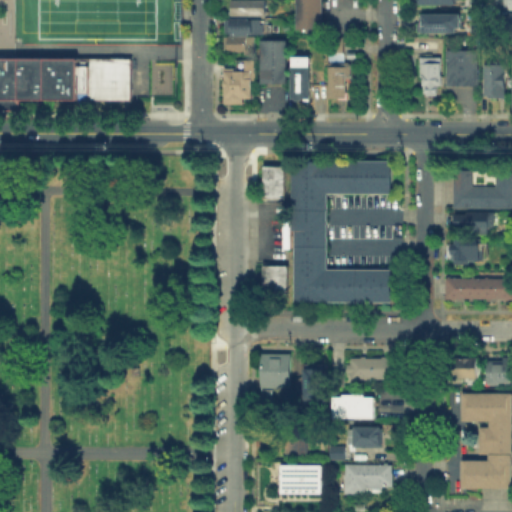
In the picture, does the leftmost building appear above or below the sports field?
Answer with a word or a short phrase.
below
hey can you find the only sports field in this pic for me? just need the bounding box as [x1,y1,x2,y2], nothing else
[16,0,183,46]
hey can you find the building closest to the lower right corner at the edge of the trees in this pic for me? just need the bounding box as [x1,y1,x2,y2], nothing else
[462,394,512,490]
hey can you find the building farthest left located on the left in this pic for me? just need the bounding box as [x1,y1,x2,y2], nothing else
[0,59,76,102]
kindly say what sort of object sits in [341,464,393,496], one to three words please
building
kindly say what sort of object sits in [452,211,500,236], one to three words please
house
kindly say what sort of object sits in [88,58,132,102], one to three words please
building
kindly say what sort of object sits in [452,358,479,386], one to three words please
house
